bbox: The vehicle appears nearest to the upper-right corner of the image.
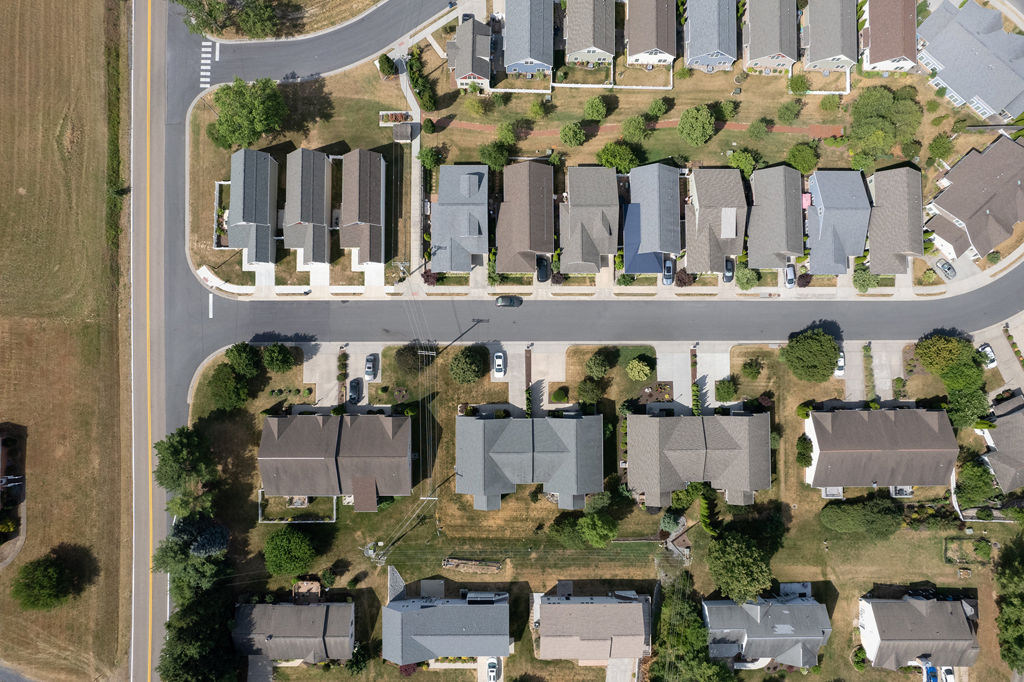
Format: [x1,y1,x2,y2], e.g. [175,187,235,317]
[934,256,956,281]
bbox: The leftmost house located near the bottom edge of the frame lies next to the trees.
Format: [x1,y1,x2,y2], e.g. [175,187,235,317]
[234,582,355,666]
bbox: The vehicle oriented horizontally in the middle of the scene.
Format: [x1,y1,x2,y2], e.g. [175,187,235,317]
[495,295,522,308]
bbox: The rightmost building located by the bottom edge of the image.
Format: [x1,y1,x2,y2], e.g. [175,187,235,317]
[860,587,986,676]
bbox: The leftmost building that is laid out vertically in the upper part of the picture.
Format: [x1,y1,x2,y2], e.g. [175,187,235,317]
[225,150,277,264]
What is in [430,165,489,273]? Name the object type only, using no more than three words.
house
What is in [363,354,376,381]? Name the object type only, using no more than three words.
vehicle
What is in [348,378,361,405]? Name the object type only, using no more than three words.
vehicle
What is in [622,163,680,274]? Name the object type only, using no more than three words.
house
